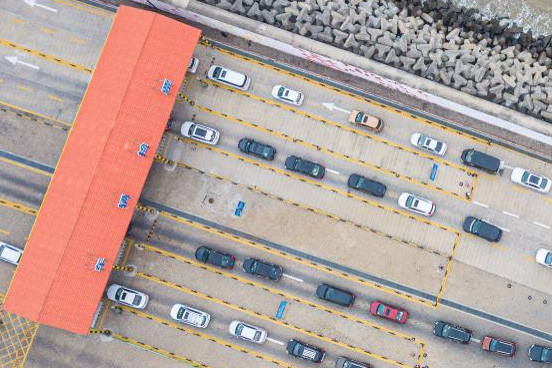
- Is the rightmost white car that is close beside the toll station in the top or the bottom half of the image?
top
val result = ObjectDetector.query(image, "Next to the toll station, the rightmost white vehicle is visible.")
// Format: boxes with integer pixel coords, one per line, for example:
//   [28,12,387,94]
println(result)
[209,65,250,90]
